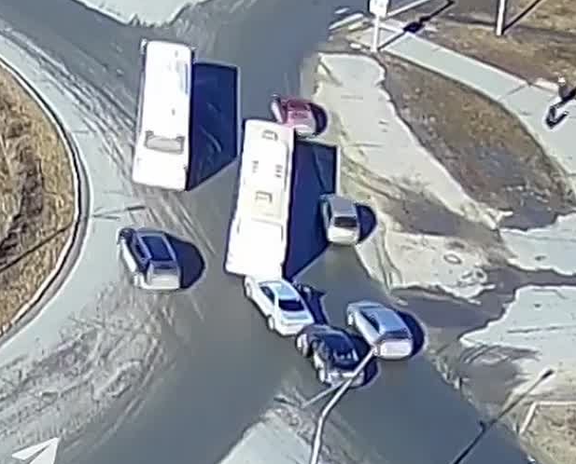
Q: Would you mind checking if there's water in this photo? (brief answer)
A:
No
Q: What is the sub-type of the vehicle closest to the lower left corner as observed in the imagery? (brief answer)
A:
car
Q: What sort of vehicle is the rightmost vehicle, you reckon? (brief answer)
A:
car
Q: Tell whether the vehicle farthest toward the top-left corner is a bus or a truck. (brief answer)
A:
bus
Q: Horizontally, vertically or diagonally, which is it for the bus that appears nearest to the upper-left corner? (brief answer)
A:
vertically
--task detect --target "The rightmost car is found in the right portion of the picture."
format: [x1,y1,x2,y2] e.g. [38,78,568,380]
[350,303,414,357]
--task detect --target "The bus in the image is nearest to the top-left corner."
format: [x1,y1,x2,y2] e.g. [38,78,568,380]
[134,40,197,188]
